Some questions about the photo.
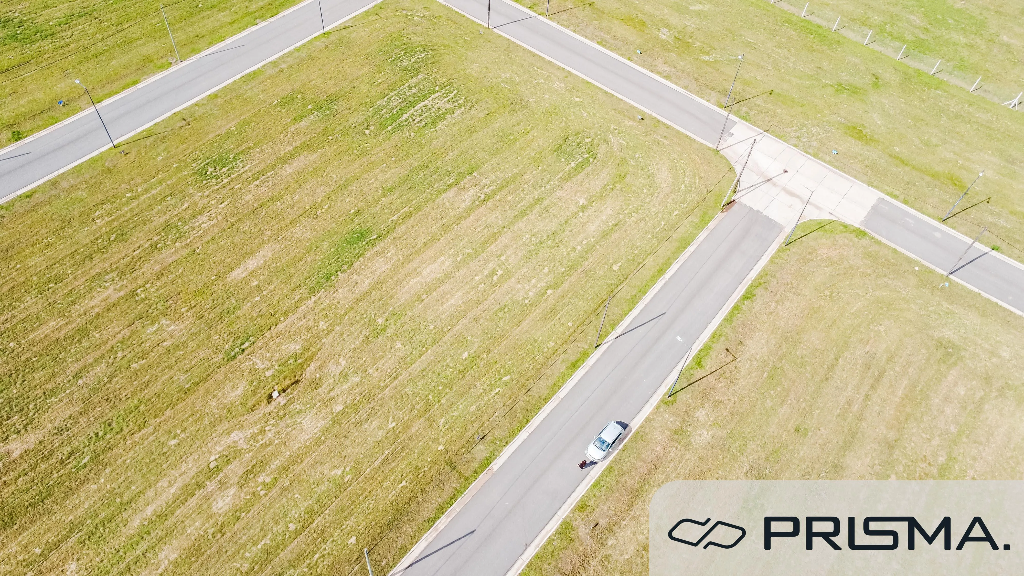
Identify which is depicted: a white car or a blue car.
white car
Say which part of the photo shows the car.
bottom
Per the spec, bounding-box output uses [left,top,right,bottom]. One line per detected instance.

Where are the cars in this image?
[585,422,624,465]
